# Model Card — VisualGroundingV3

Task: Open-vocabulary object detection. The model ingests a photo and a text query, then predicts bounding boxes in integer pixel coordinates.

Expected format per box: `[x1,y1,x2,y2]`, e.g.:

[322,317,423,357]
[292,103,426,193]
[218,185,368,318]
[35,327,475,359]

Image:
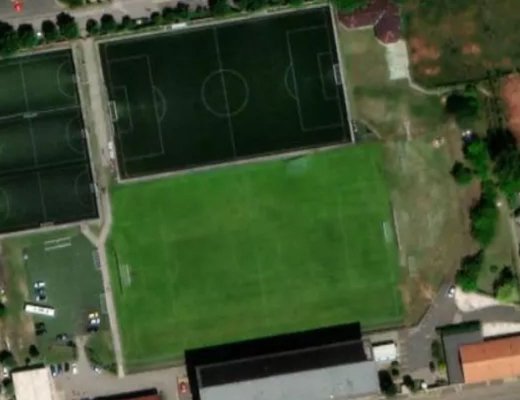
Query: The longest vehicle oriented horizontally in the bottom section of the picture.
[24,305,55,317]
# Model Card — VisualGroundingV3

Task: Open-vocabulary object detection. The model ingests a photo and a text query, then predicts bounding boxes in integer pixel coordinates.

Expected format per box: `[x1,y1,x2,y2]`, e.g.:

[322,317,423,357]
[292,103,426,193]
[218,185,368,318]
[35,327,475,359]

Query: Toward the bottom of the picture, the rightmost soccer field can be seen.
[104,141,405,373]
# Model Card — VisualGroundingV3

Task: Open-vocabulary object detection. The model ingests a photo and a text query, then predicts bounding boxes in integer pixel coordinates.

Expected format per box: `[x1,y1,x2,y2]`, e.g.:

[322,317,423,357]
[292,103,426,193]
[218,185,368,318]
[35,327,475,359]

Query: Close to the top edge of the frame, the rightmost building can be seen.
[339,0,403,44]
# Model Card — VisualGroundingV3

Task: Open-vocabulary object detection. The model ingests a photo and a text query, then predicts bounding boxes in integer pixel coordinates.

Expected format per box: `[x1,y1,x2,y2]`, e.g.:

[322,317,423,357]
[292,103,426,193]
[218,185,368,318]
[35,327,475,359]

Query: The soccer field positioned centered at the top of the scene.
[100,8,350,180]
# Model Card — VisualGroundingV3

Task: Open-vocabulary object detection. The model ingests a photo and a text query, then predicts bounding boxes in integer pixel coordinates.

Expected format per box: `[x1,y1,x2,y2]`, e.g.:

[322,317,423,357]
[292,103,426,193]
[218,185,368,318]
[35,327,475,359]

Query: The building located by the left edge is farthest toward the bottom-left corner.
[13,366,56,400]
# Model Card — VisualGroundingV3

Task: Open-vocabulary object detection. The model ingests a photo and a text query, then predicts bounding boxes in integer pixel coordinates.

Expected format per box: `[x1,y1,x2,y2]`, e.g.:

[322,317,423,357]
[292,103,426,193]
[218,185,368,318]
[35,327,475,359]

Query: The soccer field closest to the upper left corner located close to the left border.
[0,48,81,120]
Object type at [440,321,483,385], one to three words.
building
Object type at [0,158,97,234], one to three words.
soccer field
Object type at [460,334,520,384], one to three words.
building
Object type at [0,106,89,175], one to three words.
soccer field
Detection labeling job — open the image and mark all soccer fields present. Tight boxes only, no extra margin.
[104,141,405,373]
[0,158,97,234]
[100,8,350,180]
[0,106,89,175]
[0,48,81,120]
